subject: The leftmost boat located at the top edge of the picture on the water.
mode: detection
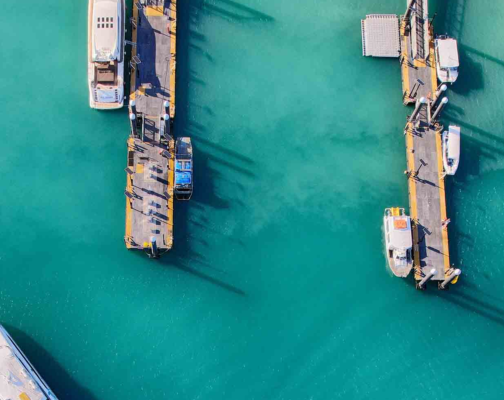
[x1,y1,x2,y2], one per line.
[87,0,130,112]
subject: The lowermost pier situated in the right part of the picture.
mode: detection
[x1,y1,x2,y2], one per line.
[402,121,450,283]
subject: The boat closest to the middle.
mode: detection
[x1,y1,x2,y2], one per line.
[174,136,192,201]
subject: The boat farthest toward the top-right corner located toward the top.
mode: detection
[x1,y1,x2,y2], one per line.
[434,34,459,84]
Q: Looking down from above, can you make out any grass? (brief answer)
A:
No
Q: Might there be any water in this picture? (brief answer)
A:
Yes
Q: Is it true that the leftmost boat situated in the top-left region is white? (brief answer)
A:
Yes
